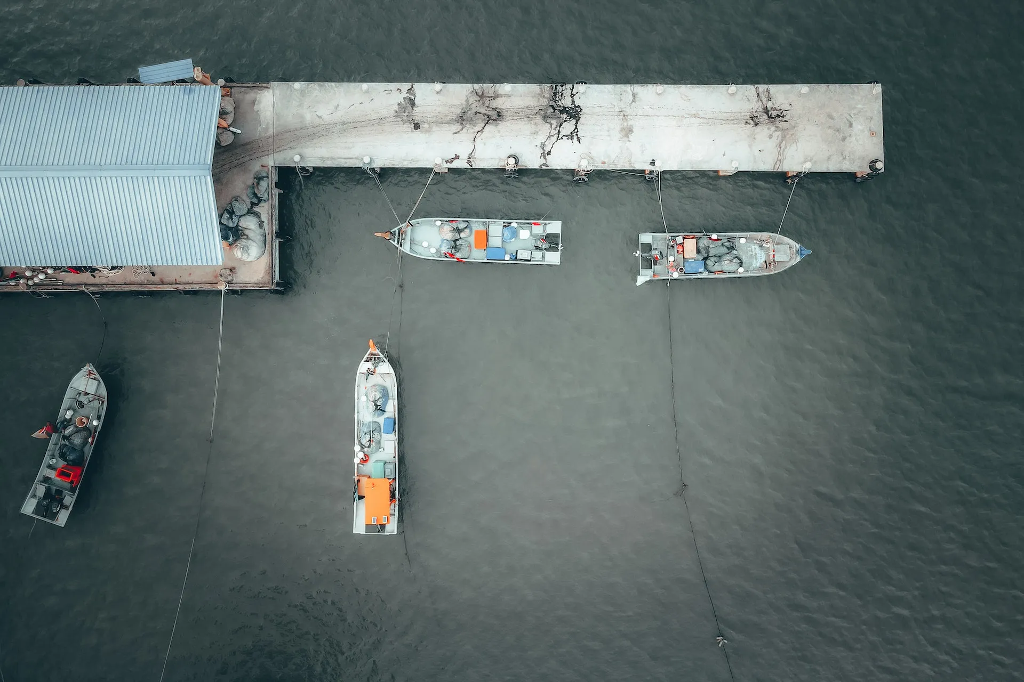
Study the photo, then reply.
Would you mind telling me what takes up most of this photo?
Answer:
water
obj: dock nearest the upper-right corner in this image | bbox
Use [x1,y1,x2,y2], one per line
[274,82,884,179]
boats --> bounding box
[634,231,812,286]
[353,339,399,535]
[20,364,113,527]
[374,211,563,265]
